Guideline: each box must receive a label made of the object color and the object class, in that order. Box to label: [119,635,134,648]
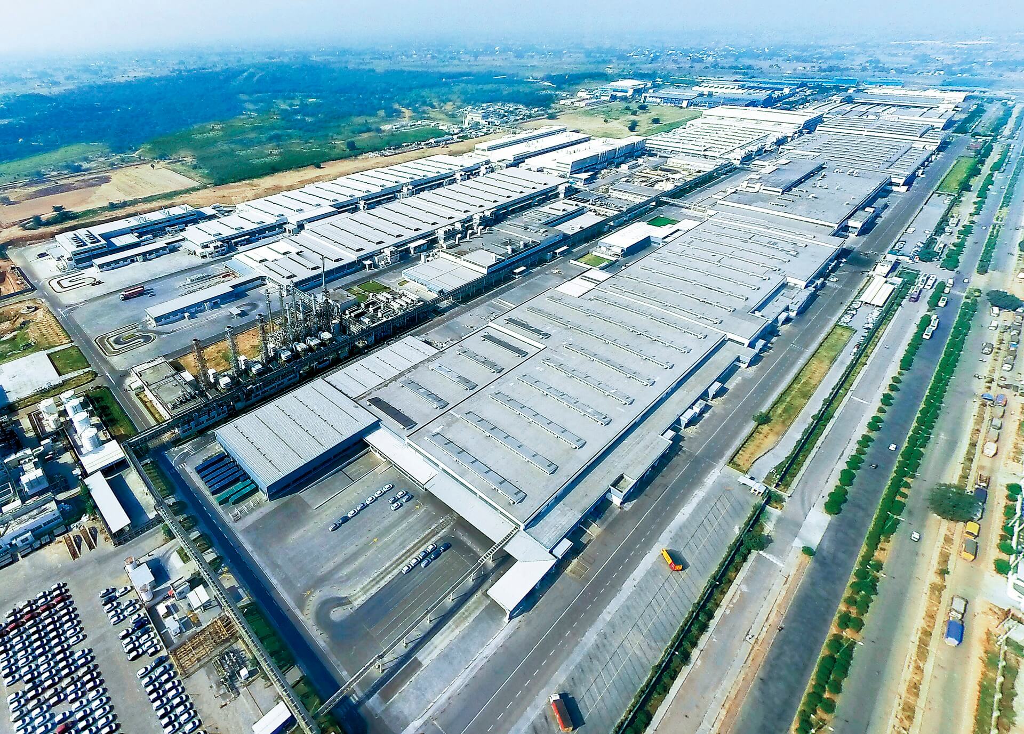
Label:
white vehicle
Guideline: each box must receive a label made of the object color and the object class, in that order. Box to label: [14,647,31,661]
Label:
white car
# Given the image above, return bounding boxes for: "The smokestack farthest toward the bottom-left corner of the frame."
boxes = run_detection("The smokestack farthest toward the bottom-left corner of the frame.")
[189,339,210,397]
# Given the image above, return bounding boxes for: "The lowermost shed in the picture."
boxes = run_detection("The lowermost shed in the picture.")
[251,700,291,734]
